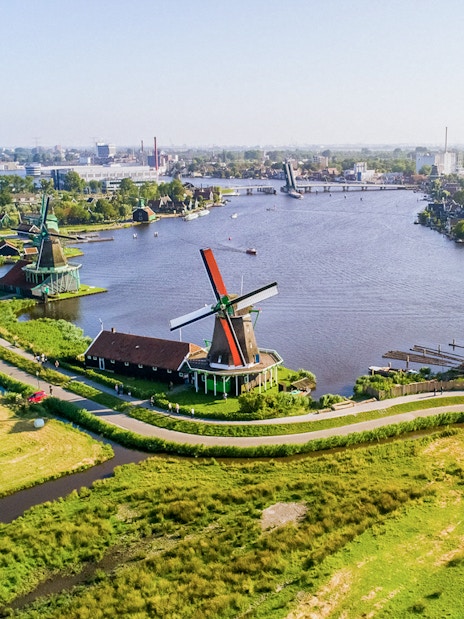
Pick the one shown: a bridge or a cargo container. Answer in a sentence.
There is a bridge in the scene.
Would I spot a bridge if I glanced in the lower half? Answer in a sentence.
No, the scene shows no bridge in the lower half.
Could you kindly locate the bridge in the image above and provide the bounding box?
[210,158,421,196]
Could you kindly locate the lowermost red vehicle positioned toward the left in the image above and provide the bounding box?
[24,389,48,403]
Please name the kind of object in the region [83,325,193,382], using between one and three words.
house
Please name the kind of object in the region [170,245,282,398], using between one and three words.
windmill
